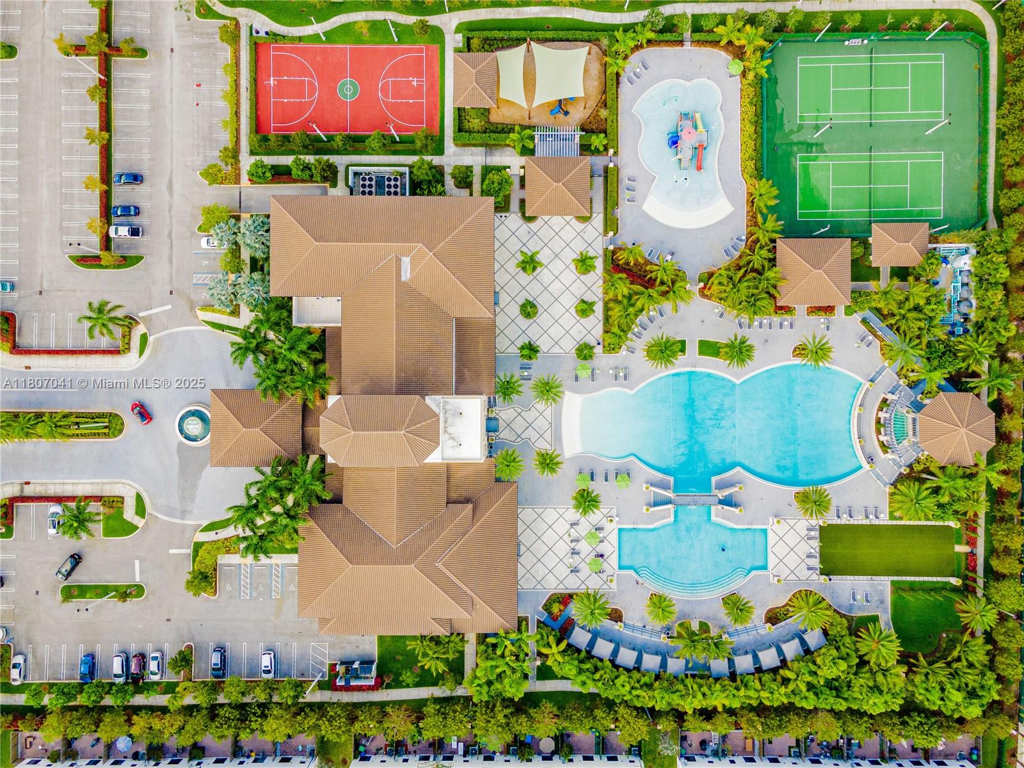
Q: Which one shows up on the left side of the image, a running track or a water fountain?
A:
water fountain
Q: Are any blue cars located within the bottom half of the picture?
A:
Yes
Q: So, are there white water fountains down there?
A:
Yes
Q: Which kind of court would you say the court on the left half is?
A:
basketball court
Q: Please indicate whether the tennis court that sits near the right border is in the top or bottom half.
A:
top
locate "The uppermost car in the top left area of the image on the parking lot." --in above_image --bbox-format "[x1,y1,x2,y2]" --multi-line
[112,170,141,185]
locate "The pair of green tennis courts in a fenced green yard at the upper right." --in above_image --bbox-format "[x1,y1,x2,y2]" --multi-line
[763,36,983,237]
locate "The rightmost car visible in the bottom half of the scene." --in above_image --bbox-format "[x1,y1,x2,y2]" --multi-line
[258,652,273,680]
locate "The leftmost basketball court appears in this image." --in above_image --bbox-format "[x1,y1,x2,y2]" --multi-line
[255,43,439,135]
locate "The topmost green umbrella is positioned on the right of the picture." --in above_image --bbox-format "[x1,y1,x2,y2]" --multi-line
[726,60,743,76]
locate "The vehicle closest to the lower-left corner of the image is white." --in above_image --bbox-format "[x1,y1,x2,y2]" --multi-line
[7,655,25,687]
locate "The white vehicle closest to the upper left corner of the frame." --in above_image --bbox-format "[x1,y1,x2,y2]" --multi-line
[107,223,142,238]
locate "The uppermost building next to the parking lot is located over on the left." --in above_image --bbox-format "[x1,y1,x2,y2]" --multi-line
[269,195,518,638]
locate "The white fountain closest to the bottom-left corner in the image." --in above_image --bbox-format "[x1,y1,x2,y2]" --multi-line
[174,407,211,444]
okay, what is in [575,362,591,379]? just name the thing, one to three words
umbrella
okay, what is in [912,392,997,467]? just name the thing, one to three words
building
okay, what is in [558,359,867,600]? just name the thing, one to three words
swimming pool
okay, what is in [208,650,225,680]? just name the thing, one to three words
car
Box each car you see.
[110,202,138,217]
[126,655,144,685]
[208,650,225,680]
[44,505,62,536]
[129,401,151,427]
[77,655,93,685]
[112,170,141,185]
[108,655,126,686]
[199,235,225,249]
[146,653,162,682]
[0,281,12,293]
[7,655,25,687]
[0,628,7,641]
[54,554,79,582]
[258,652,273,680]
